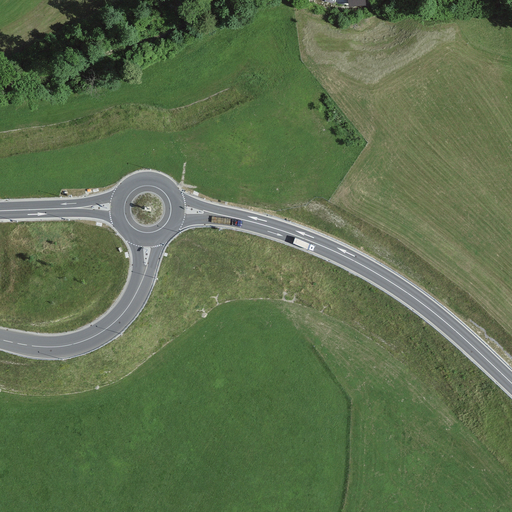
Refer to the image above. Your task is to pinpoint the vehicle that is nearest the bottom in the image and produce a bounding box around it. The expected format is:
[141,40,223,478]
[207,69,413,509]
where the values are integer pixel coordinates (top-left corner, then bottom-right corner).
[292,238,316,251]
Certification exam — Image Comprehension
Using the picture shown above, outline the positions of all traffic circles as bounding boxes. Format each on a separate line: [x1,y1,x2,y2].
[110,171,186,247]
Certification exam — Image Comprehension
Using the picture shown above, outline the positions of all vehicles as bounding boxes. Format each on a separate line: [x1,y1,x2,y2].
[210,217,242,227]
[292,238,316,251]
